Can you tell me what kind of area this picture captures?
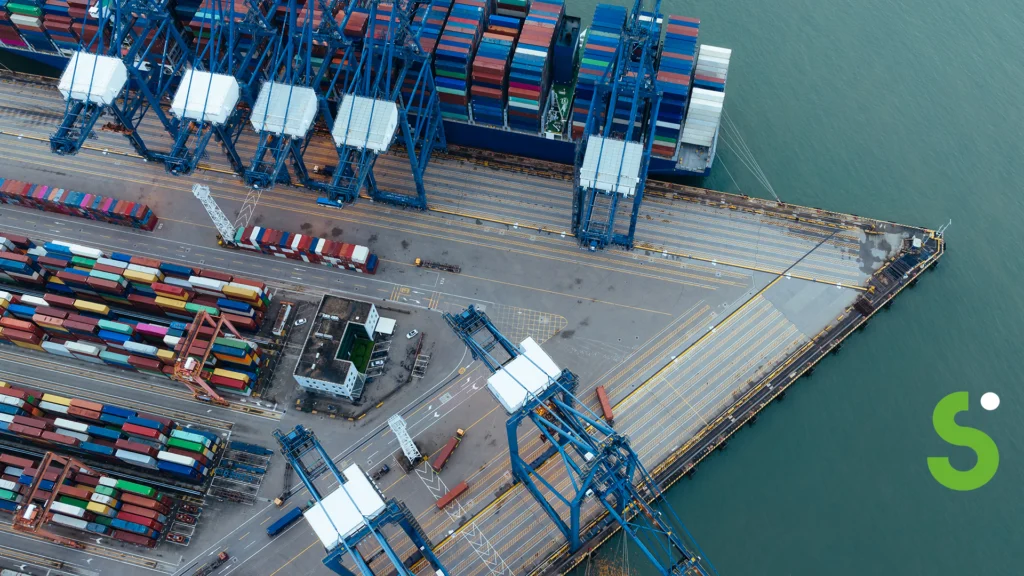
port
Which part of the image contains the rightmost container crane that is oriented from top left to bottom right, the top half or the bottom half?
bottom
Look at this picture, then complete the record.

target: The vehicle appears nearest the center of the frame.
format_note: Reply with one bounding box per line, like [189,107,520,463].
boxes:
[415,256,460,271]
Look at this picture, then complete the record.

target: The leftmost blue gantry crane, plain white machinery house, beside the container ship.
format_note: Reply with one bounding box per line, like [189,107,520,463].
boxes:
[44,0,225,168]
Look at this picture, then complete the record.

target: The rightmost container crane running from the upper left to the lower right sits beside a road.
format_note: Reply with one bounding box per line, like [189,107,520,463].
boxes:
[445,304,730,576]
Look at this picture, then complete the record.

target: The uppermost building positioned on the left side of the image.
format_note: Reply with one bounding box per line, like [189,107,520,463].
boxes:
[290,294,379,399]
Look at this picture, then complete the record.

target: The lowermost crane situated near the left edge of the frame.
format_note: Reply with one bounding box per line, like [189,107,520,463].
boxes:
[2,449,92,546]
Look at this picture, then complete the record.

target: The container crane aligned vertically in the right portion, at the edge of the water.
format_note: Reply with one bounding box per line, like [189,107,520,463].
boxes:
[570,0,668,248]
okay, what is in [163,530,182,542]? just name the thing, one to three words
vehicle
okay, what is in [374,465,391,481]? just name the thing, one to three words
vehicle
